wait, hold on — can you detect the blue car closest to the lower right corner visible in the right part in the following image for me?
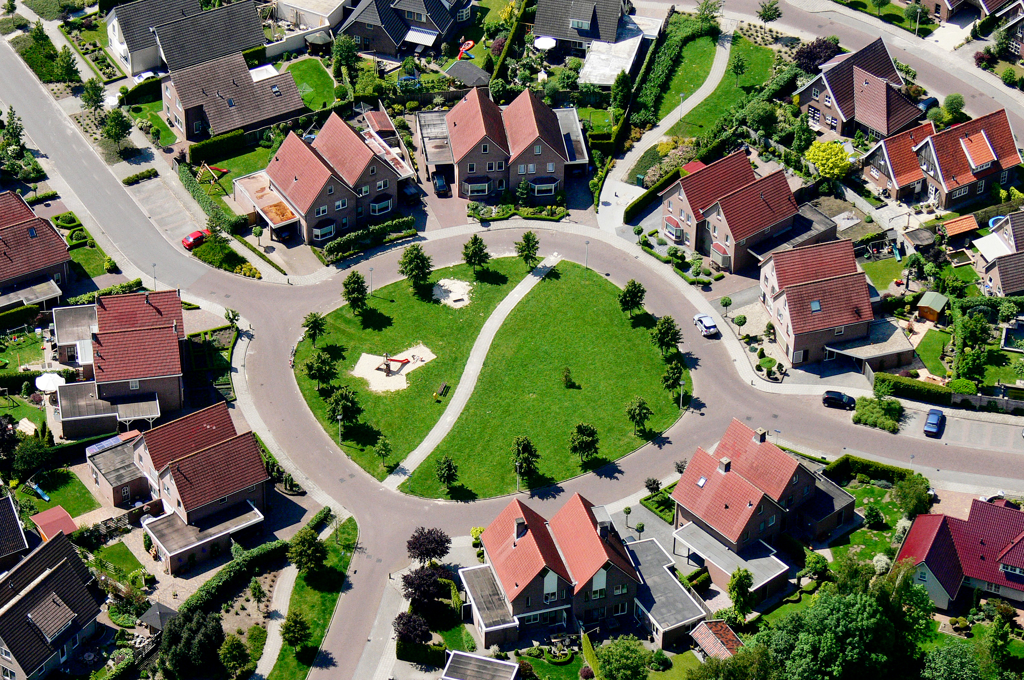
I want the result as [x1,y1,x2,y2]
[924,409,943,436]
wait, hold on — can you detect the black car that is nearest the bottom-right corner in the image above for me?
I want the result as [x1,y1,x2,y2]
[822,394,855,412]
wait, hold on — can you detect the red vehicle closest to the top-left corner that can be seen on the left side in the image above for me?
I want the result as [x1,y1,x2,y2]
[181,230,213,248]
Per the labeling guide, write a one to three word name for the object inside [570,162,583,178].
vehicle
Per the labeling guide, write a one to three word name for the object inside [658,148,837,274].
house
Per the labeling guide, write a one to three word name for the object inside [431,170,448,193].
car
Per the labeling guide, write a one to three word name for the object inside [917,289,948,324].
shed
